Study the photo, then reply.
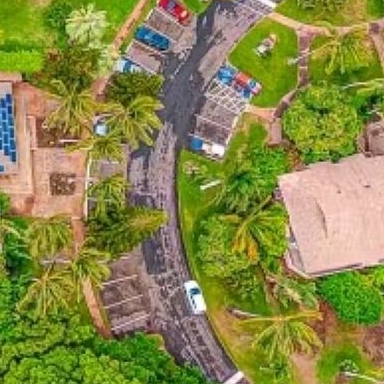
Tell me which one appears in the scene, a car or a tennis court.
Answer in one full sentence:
The one in the frame is a car.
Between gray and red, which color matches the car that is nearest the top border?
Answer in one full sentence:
The car that is nearest the top border looks red in the image.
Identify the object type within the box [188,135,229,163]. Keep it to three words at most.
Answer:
truck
